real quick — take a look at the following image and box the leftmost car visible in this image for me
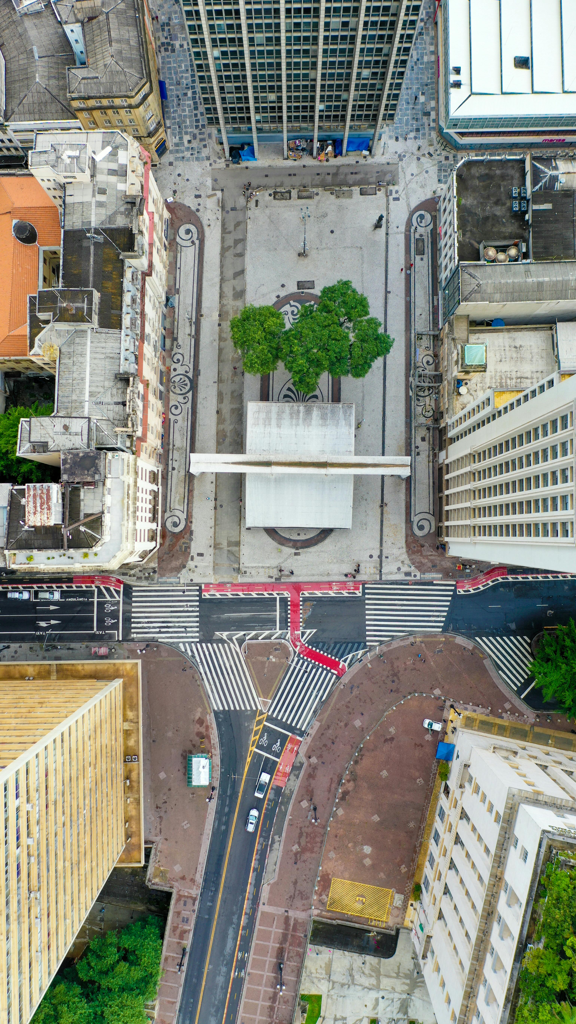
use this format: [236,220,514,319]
[6,589,31,601]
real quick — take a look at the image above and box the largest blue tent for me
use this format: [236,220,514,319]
[433,738,458,762]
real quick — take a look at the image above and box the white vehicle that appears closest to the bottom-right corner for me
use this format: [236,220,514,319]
[421,718,445,735]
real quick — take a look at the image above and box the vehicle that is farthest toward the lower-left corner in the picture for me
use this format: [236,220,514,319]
[246,807,259,833]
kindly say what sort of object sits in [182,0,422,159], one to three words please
building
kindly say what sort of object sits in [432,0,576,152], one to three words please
building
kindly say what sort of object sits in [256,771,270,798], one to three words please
vehicle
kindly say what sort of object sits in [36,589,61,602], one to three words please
vehicle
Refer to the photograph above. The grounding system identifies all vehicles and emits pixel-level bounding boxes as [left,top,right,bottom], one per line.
[256,771,270,798]
[36,589,61,602]
[6,589,31,601]
[246,807,259,833]
[421,718,445,735]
